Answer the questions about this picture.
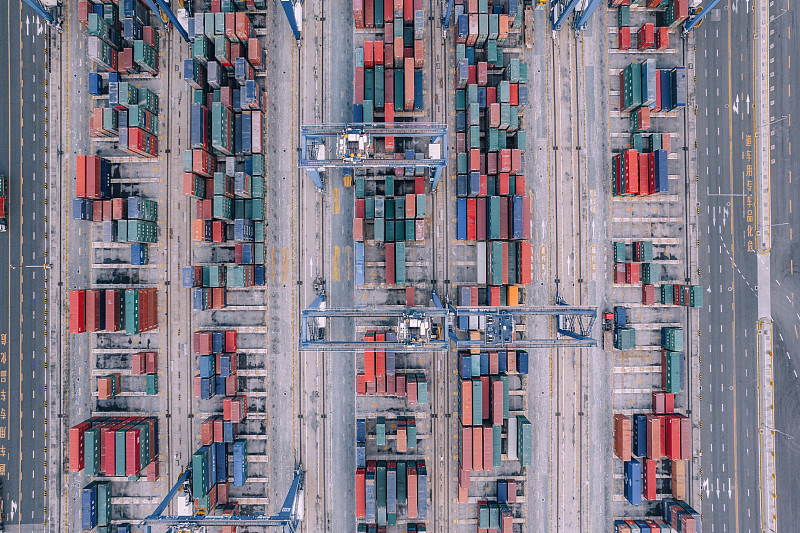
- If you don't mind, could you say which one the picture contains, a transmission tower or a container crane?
container crane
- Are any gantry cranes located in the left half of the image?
Yes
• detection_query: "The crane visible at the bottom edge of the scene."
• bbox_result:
[143,463,305,533]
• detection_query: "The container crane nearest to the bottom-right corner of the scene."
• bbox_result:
[445,291,597,352]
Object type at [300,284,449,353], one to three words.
container crane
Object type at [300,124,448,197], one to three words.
container crane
